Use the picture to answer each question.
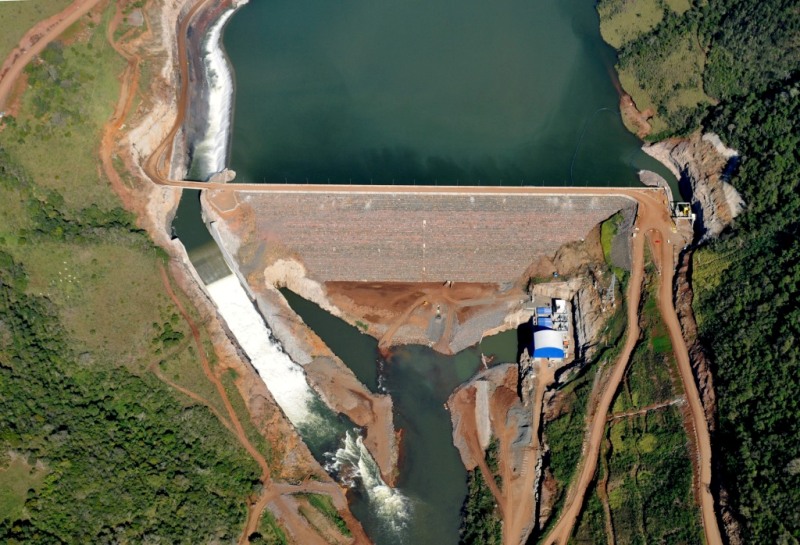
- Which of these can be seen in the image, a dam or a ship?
dam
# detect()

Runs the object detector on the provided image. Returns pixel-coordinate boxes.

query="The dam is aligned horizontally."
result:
[206,183,668,283]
